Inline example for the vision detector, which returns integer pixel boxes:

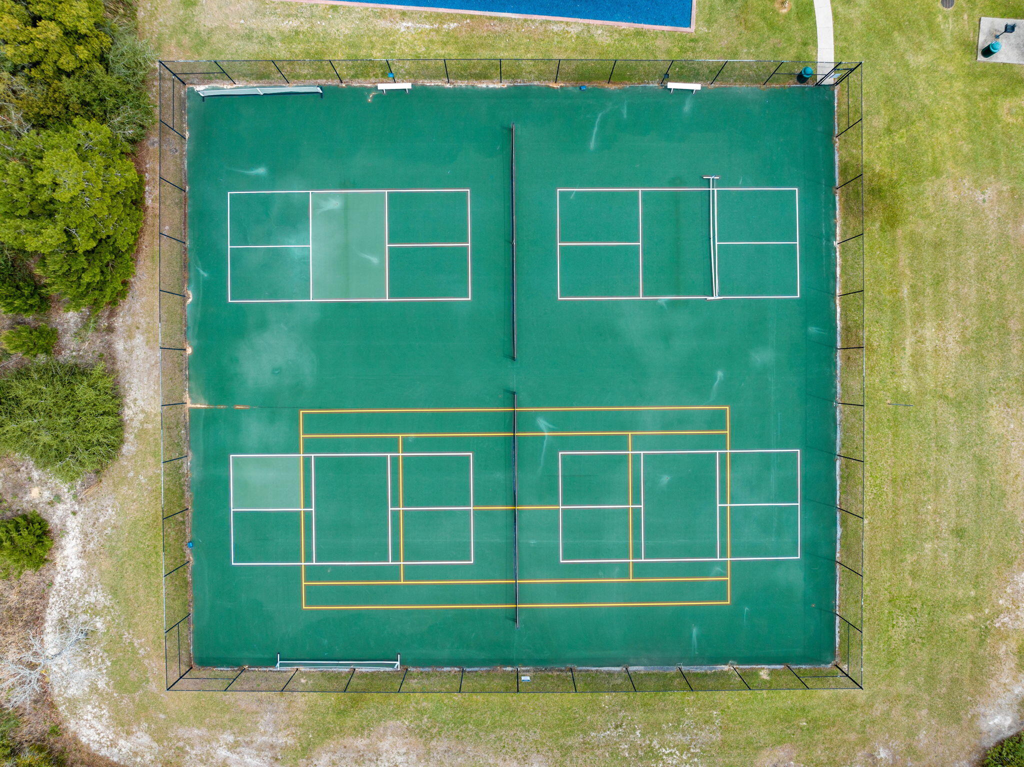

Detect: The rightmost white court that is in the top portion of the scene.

[556,187,801,301]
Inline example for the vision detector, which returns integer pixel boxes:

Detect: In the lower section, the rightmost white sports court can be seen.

[558,449,801,563]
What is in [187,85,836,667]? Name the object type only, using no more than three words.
sports court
